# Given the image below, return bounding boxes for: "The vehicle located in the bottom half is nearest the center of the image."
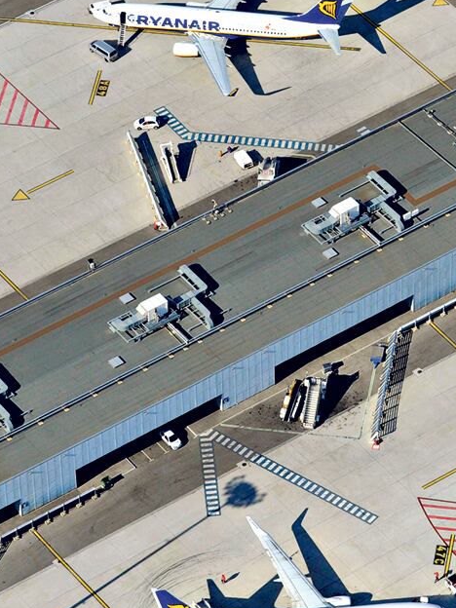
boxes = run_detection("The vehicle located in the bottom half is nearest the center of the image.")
[281,373,302,417]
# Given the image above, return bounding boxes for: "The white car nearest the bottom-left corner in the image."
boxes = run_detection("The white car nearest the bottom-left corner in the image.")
[158,427,185,452]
